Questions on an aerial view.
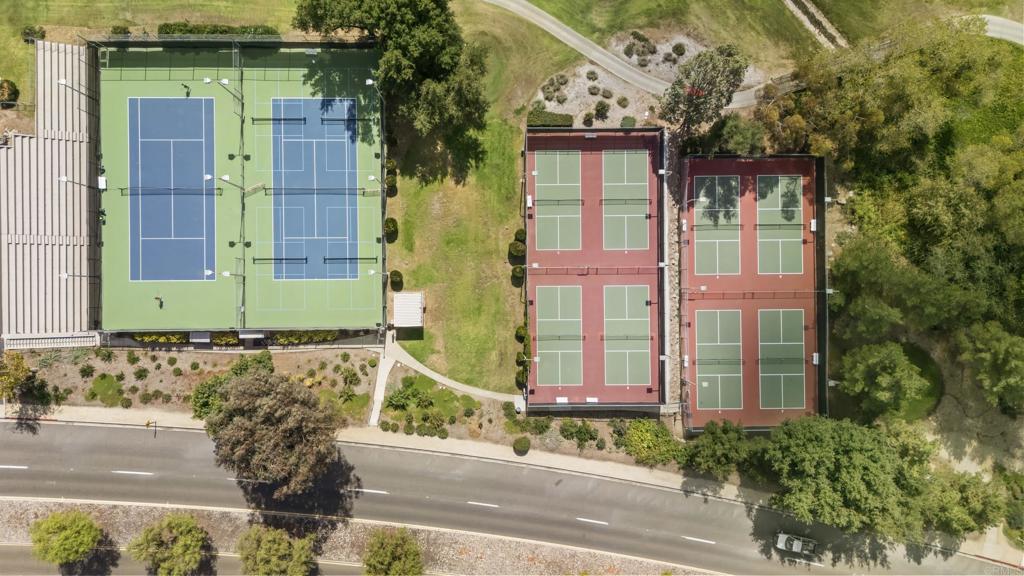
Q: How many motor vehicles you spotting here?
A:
one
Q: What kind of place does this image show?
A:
sports ground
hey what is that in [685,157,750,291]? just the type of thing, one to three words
sports court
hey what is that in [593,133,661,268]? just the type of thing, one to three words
sports court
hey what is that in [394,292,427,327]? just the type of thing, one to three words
shed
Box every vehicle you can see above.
[774,532,817,554]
